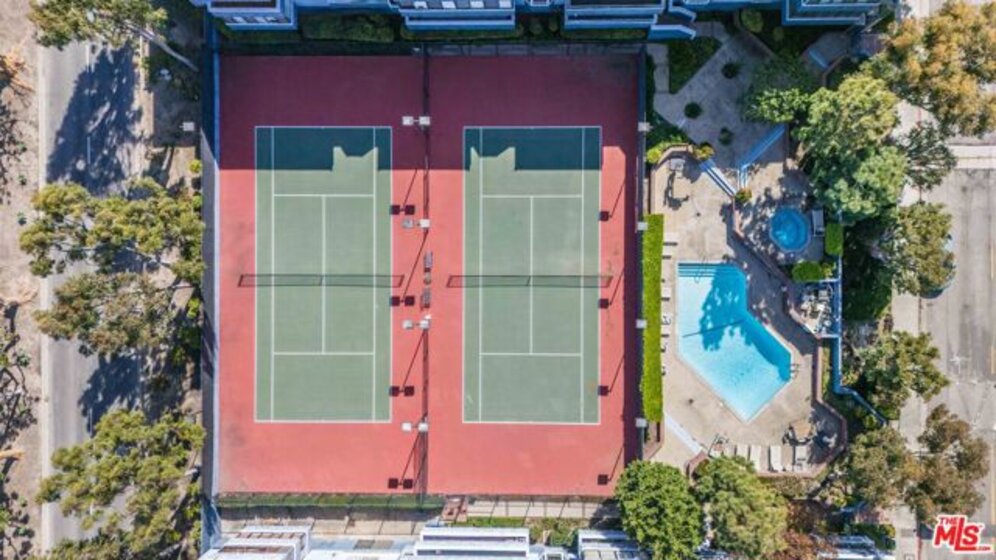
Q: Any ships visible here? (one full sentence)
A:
No, there isn't any ship down there.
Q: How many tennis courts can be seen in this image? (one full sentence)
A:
The photo contains 2 tennis courts.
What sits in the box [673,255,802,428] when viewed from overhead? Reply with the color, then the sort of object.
blue swimming pool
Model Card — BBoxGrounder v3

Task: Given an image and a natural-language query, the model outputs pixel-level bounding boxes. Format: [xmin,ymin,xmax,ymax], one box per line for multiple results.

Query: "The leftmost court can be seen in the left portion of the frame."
[220,54,425,493]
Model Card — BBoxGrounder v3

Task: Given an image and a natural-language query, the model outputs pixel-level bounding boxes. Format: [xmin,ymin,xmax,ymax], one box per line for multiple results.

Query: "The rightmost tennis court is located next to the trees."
[425,54,638,493]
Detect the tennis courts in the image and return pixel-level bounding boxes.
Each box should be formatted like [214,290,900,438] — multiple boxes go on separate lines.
[425,54,638,493]
[220,54,425,493]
